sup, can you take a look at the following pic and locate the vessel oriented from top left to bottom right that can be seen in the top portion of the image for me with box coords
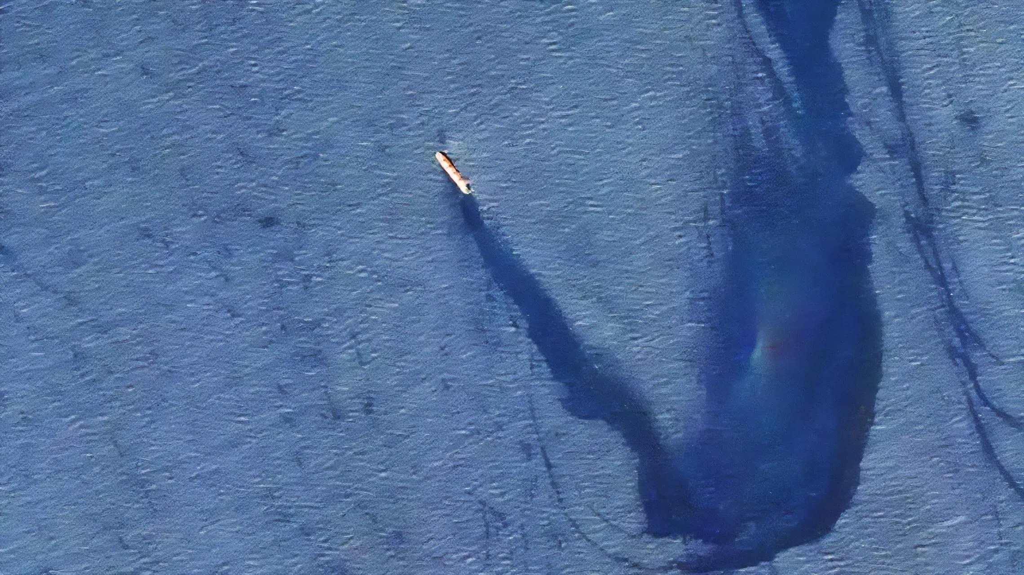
[437,152,471,195]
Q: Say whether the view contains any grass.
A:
No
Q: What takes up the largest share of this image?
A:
water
